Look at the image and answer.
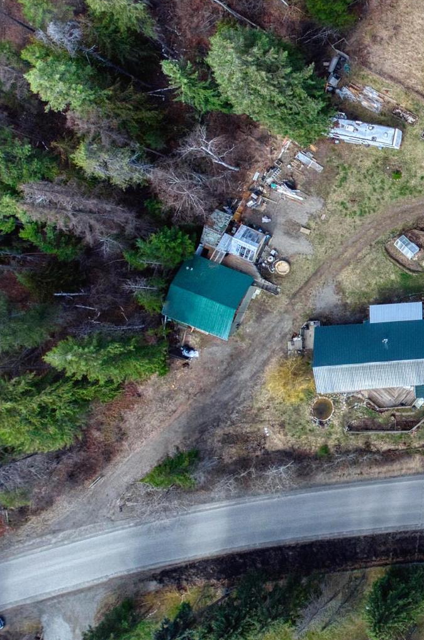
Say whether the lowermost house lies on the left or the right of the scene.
right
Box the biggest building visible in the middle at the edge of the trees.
[161,255,259,339]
